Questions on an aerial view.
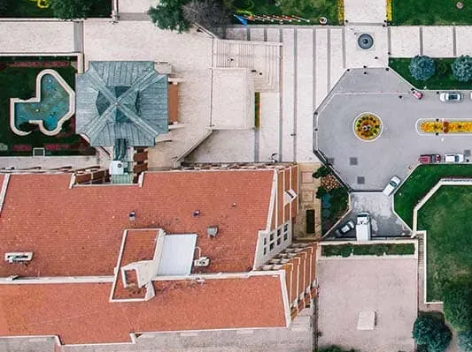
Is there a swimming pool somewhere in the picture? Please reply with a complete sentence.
Yes, there is a swimming pool in the image.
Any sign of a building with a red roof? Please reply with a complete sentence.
Yes, the picture does show a building with a red roof.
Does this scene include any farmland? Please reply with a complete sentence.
No, the picture contains no farmland.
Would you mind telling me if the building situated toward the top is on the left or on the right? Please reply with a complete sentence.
The building situated toward the top is on the left side of the image.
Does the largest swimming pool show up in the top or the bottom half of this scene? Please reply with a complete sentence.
The largest swimming pool sits in the top half of the picture.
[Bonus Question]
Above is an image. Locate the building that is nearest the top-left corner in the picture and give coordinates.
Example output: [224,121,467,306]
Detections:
[75,60,186,178]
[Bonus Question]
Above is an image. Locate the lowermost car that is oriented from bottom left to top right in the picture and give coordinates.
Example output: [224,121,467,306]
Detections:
[334,219,355,238]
